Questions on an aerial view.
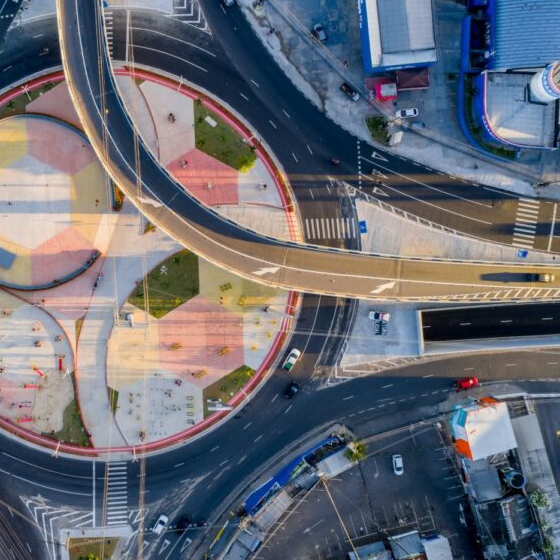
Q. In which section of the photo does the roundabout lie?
left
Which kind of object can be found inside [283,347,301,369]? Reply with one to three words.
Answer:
car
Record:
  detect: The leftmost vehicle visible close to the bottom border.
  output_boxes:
[153,514,167,533]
